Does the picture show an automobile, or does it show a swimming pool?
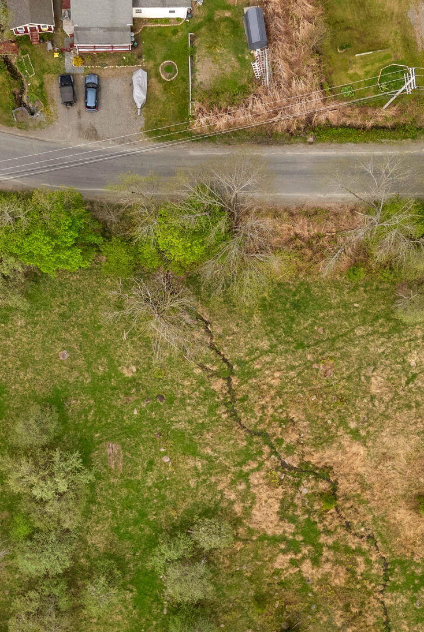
automobile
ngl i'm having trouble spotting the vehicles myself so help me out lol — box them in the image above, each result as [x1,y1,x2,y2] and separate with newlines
[58,73,76,109]
[82,73,99,111]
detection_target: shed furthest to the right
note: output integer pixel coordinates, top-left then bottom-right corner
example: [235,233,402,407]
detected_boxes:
[244,1,270,49]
